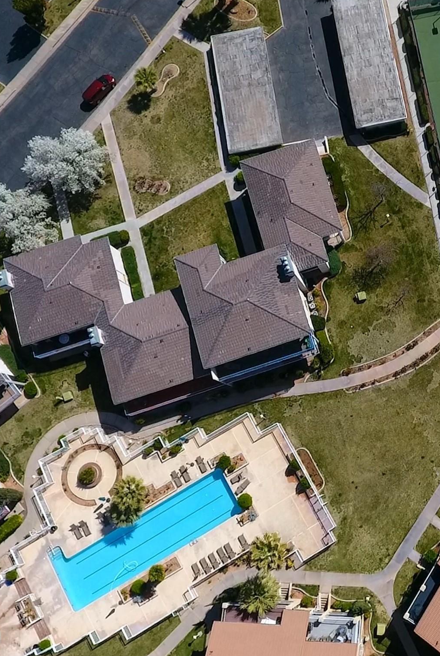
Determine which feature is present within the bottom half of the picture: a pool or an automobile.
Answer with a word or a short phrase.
pool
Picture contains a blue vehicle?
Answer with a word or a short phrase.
No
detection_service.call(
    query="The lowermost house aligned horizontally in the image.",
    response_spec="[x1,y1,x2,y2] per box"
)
[205,584,367,656]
